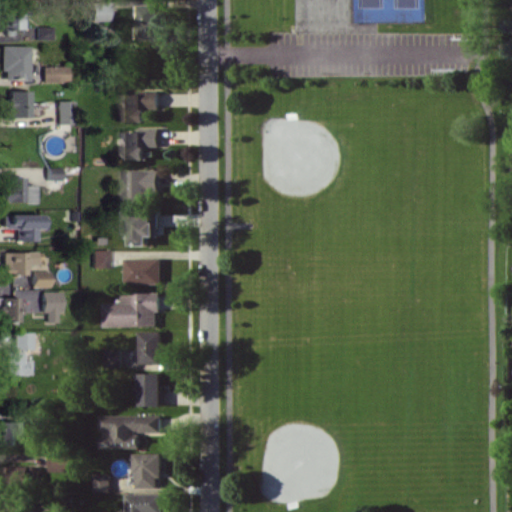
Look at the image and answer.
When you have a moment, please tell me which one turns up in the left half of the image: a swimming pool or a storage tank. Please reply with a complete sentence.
There is a swimming pool in the left half of the image.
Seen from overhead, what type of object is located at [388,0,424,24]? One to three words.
sports court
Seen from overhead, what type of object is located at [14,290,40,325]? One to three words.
house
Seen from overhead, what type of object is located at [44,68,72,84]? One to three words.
building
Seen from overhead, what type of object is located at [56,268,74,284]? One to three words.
swimming pool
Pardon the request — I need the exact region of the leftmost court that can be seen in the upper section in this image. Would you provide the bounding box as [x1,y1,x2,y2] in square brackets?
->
[353,0,388,24]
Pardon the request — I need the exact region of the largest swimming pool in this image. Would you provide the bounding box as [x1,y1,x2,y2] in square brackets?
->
[42,132,70,160]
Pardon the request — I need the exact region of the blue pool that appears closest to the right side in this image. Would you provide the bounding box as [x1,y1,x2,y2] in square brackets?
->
[110,460,130,478]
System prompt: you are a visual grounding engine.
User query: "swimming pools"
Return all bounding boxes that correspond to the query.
[56,268,74,284]
[42,132,70,160]
[110,460,130,478]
